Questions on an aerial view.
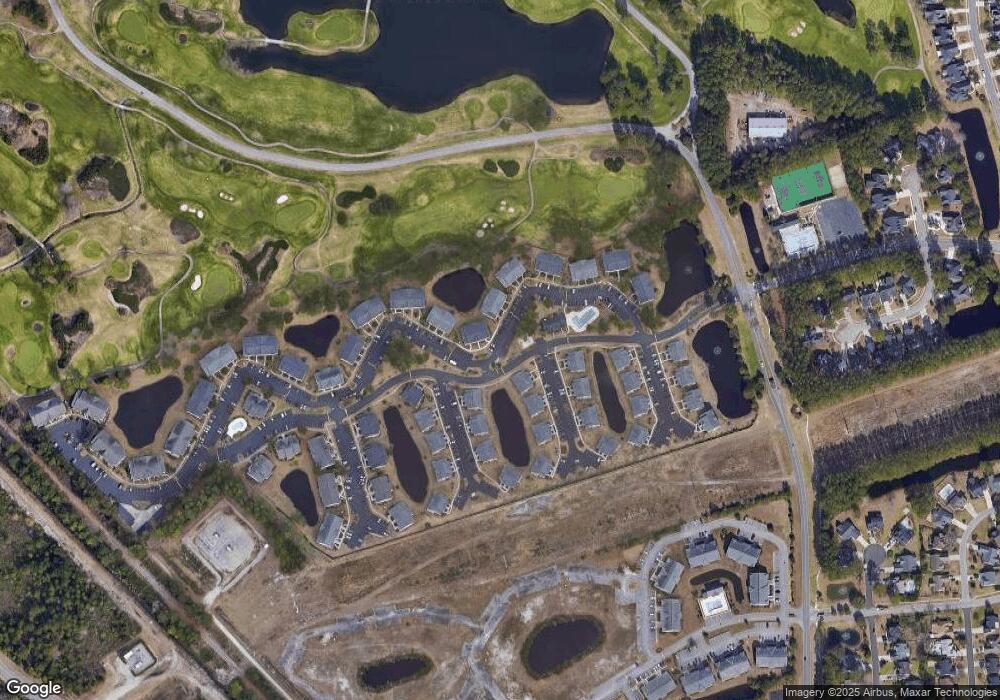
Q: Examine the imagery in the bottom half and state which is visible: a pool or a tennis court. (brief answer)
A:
pool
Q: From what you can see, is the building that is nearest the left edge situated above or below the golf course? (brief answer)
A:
below it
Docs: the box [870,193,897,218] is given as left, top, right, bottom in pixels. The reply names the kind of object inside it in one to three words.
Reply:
house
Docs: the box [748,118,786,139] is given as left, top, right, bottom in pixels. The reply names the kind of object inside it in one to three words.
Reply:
barn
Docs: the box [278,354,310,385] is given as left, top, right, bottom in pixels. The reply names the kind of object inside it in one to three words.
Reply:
building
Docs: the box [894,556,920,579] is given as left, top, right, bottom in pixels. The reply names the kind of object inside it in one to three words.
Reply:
house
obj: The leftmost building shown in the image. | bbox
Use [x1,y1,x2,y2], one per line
[30,397,66,431]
